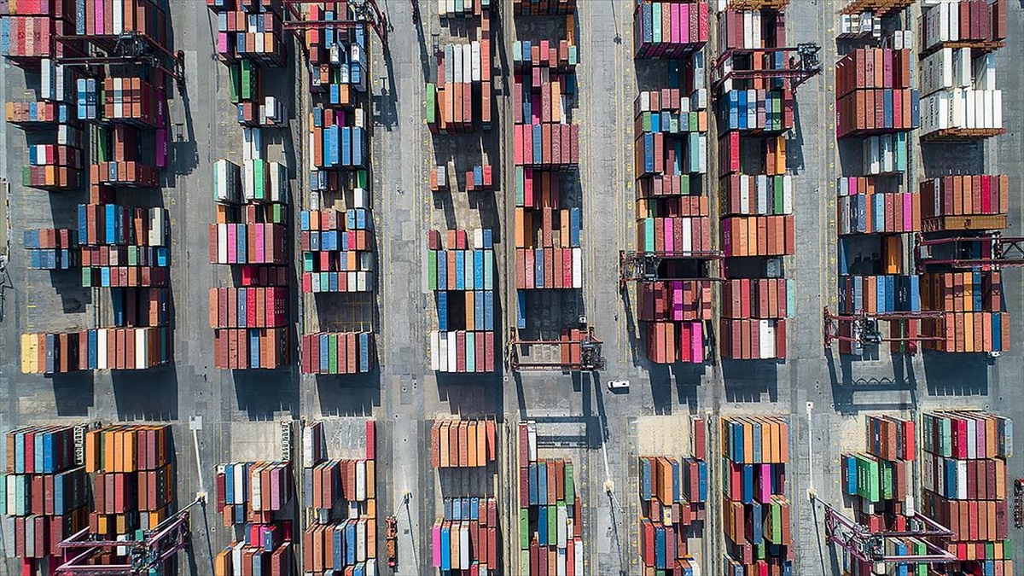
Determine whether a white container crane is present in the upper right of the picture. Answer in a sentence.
No, the scene shows no white container crane in the upper right of the picture.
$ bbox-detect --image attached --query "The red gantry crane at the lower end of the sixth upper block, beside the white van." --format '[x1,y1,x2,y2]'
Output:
[507,328,607,373]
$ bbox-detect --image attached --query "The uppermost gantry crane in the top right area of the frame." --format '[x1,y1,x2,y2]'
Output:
[712,43,822,99]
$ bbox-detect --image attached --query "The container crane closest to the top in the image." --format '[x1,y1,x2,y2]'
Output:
[277,0,385,52]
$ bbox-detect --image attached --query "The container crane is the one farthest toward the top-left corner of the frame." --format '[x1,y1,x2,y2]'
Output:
[48,30,180,87]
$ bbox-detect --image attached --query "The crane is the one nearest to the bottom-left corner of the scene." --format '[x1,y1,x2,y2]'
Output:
[59,510,189,574]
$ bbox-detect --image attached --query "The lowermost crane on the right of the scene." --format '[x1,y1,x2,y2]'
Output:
[826,503,957,565]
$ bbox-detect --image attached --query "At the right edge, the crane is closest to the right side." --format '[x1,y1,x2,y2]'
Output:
[917,232,1024,272]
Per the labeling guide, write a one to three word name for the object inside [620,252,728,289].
container crane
